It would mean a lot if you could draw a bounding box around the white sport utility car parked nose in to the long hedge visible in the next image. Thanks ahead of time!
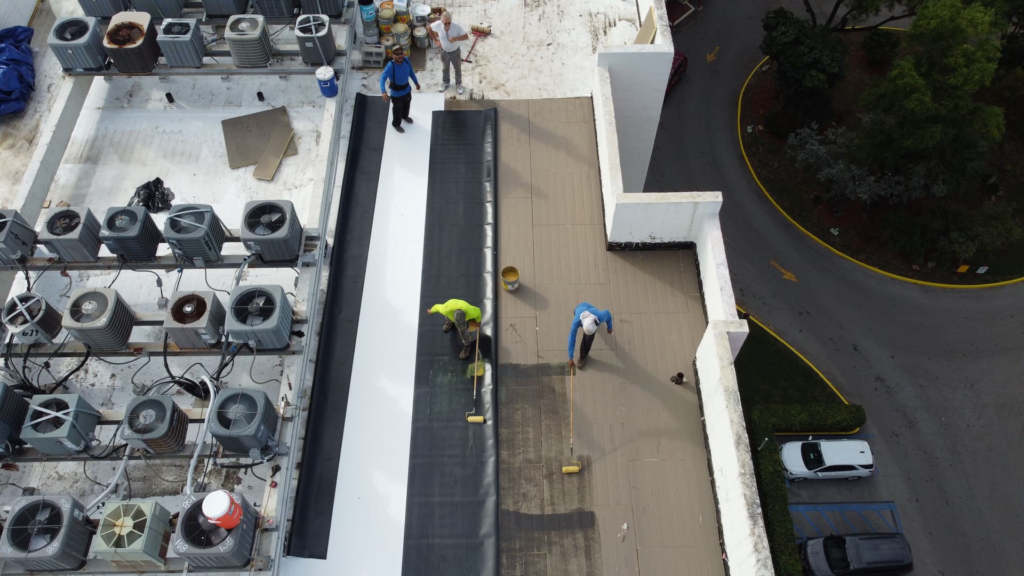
[780,435,878,485]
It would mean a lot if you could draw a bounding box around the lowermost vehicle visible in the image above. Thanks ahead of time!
[800,524,920,576]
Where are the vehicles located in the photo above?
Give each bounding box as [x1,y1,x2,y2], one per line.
[780,435,878,485]
[800,524,920,576]
[662,56,689,110]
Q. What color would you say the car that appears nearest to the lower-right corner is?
black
